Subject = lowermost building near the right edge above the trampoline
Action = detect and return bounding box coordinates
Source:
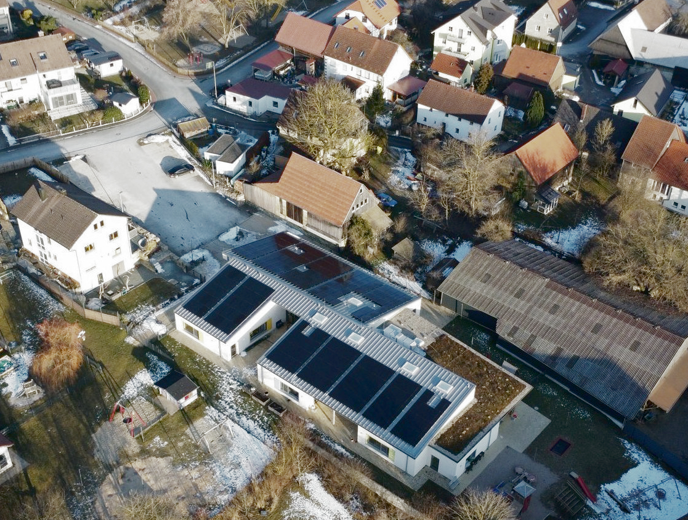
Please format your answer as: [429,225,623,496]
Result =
[434,240,688,436]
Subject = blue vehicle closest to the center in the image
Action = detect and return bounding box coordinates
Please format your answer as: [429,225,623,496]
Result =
[374,189,400,205]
